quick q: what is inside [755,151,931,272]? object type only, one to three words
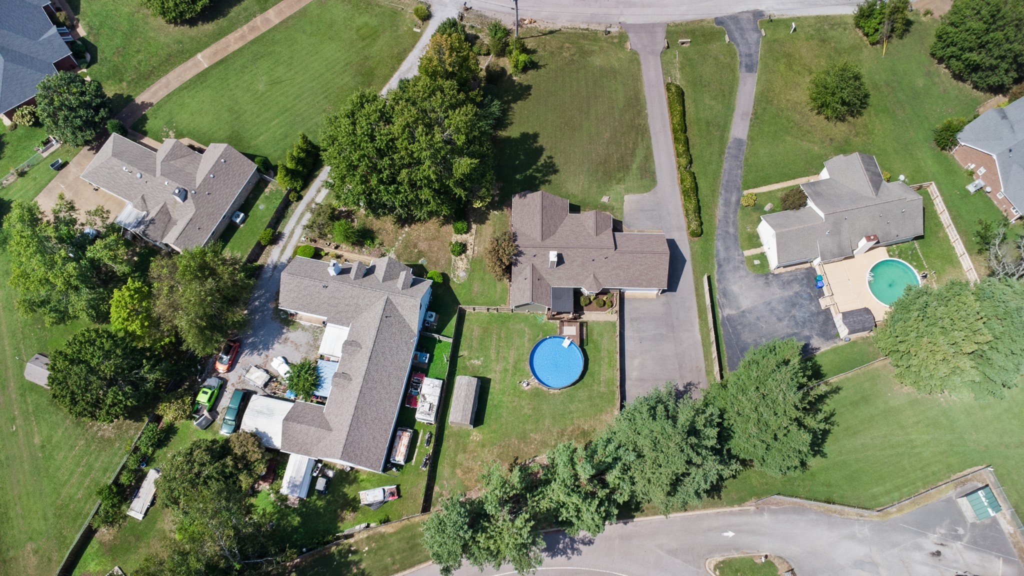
house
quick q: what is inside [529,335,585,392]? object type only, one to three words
swimming pool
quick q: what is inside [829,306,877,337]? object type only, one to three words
shed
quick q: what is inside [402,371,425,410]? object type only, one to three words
car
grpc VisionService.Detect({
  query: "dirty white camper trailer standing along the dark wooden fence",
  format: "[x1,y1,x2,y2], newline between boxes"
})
[414,375,444,428]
